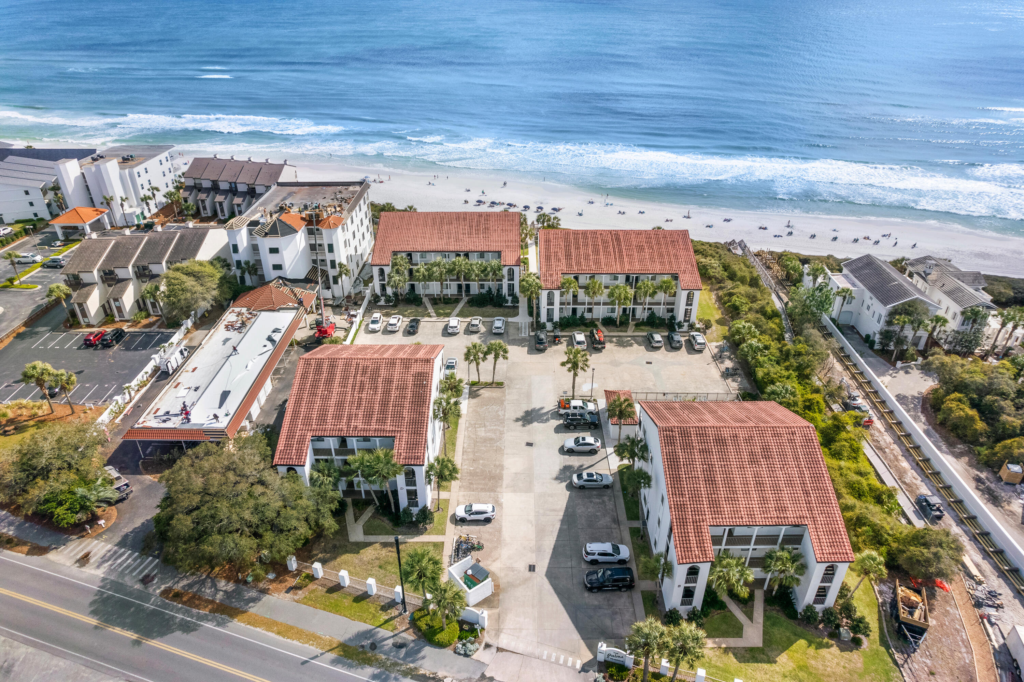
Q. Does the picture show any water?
Yes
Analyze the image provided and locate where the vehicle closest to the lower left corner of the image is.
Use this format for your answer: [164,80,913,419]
[95,470,124,505]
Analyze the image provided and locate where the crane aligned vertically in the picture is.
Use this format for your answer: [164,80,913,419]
[302,207,350,340]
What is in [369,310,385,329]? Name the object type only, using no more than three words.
car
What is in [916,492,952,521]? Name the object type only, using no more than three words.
vehicle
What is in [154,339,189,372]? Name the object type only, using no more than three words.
van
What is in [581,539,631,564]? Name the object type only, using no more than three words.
car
